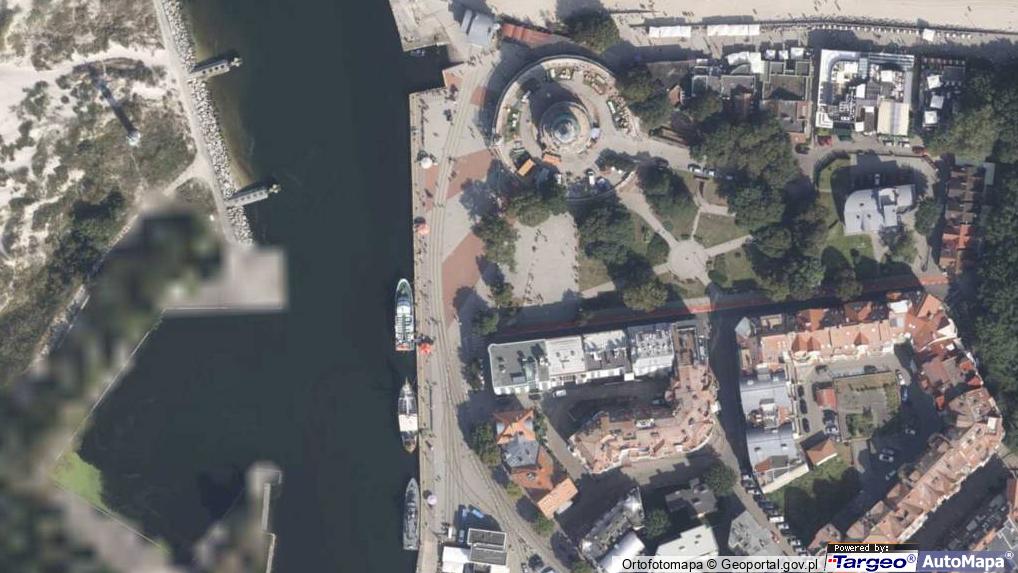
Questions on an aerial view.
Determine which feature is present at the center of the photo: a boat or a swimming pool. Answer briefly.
boat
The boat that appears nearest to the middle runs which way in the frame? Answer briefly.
vertically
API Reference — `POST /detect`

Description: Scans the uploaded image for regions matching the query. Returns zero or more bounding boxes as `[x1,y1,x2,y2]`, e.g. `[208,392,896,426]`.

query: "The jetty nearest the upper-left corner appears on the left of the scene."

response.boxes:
[189,63,232,82]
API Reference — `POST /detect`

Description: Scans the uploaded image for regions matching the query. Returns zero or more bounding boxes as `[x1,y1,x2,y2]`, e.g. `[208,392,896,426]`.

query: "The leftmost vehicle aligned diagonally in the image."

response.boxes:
[470,507,486,520]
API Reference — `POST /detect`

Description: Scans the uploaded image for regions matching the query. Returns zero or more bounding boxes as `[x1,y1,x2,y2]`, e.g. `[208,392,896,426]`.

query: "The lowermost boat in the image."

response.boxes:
[404,478,424,550]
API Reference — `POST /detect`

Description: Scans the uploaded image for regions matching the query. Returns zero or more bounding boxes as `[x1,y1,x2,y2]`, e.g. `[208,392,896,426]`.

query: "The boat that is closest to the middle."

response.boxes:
[395,279,418,352]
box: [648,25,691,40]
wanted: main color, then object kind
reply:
white tent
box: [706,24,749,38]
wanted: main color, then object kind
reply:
white tent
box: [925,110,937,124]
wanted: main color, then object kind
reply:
white umbrella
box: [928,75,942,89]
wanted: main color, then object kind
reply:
white umbrella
